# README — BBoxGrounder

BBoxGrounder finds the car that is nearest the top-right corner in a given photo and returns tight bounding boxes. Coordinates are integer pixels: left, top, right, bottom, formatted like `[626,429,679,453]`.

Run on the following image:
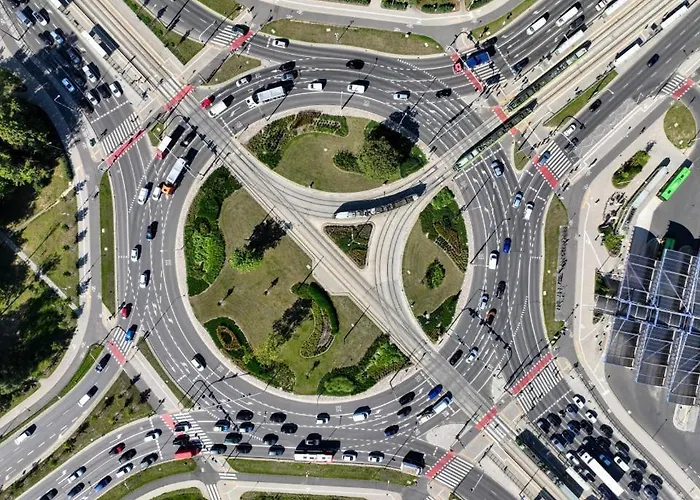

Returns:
[645,53,660,68]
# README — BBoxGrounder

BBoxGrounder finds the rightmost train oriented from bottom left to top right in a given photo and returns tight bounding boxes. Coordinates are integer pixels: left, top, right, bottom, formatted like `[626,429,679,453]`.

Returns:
[503,44,591,115]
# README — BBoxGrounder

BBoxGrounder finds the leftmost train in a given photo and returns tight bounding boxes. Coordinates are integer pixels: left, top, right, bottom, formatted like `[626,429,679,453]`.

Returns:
[336,192,419,220]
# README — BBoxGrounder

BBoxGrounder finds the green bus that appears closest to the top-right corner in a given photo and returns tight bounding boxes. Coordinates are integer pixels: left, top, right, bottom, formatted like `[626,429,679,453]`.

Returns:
[656,166,688,200]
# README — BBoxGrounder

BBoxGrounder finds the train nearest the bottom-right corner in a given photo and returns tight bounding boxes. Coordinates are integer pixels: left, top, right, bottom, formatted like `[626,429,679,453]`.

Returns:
[511,433,581,500]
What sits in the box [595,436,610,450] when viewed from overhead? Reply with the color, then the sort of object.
black car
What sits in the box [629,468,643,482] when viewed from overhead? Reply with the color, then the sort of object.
black vehicle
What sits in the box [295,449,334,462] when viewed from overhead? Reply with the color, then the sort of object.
white vehicle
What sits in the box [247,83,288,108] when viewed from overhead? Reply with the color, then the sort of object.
white truck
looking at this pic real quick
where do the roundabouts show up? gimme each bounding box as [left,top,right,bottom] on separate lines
[116,43,549,472]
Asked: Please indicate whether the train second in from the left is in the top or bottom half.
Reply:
top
